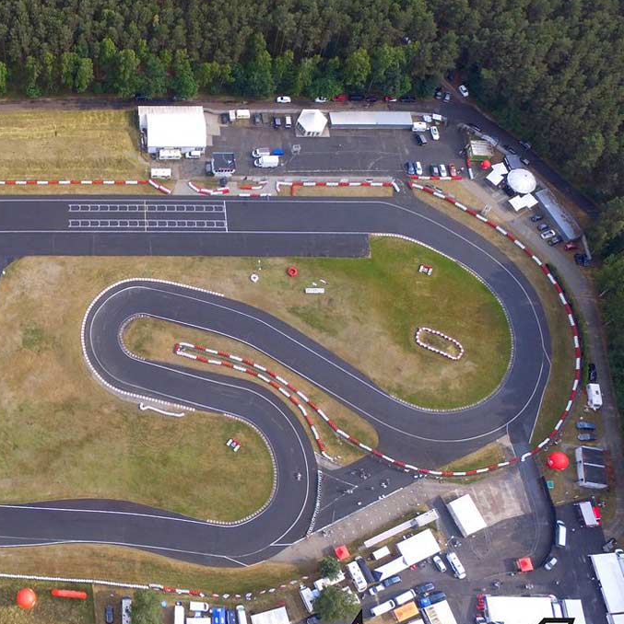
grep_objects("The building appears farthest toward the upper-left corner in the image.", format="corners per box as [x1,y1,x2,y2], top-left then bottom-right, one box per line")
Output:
[137,106,207,152]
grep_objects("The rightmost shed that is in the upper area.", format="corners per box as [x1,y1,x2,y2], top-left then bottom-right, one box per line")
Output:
[532,188,582,244]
